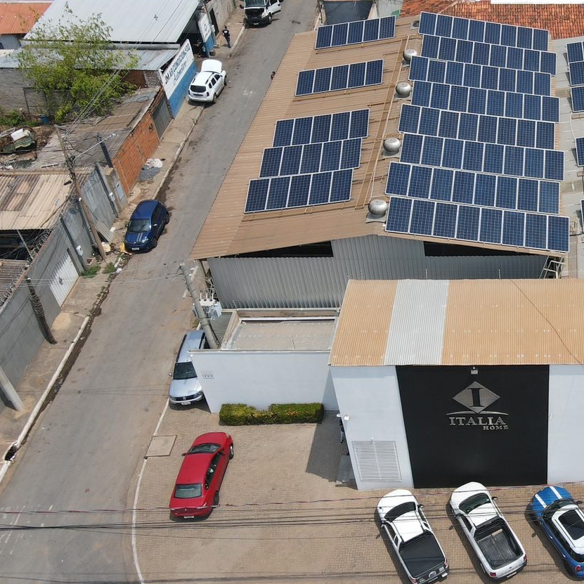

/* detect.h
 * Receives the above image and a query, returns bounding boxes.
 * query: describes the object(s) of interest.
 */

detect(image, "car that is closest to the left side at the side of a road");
[120,198,171,249]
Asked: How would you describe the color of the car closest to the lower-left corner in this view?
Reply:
red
